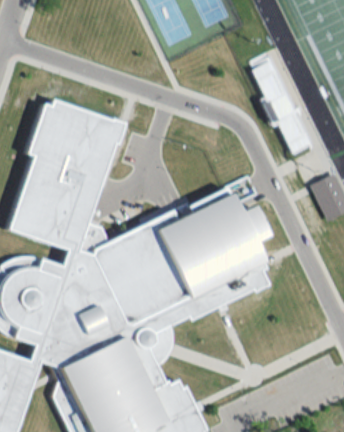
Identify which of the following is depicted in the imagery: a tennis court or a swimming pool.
tennis court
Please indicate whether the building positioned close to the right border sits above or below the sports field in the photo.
below it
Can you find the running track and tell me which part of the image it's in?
top right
